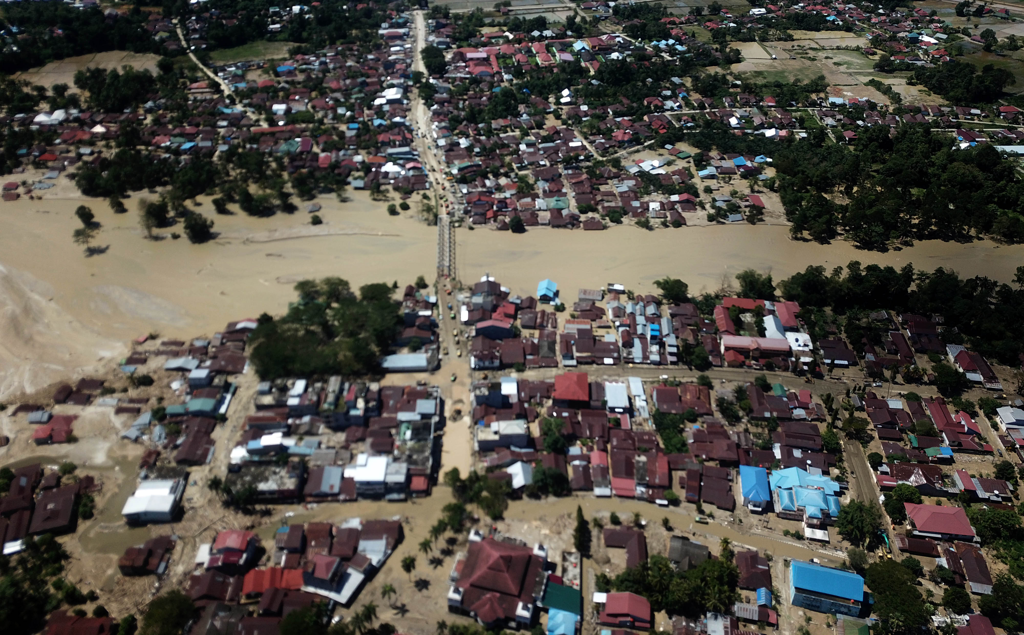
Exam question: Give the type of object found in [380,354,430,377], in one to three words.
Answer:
building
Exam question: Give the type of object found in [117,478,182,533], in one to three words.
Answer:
house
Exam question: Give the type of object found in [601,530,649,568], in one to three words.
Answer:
house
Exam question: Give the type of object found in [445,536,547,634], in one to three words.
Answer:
building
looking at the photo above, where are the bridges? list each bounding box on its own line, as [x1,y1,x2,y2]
[438,219,453,281]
